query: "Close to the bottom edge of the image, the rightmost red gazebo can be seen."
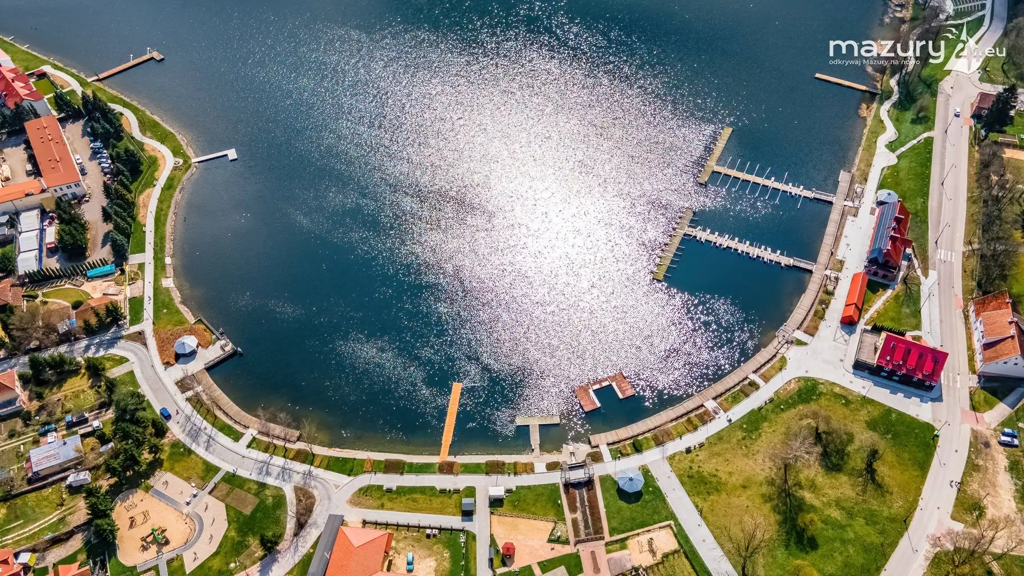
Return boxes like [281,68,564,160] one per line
[502,542,516,557]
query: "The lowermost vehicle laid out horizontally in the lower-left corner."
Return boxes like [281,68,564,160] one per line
[62,469,92,485]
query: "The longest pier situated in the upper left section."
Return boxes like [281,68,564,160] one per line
[88,45,164,82]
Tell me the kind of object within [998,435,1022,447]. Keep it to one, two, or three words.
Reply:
vehicle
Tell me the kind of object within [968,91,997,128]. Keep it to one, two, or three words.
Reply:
house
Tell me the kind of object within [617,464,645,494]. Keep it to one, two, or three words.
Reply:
gazebo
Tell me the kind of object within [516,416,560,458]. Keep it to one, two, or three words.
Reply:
pier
